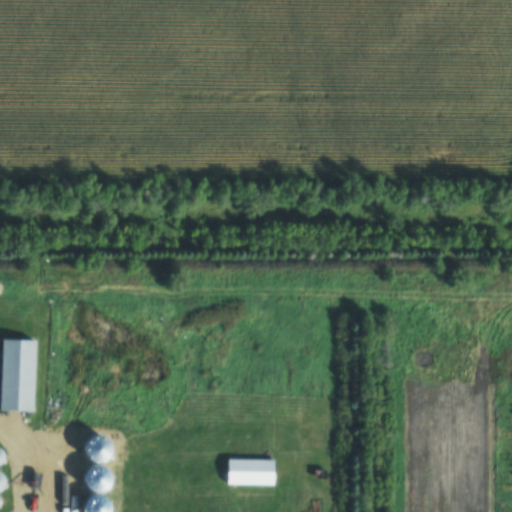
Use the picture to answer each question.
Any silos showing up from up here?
Yes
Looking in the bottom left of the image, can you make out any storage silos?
Yes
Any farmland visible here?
Yes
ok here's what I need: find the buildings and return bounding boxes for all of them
[227,459,274,486]
[0,340,36,410]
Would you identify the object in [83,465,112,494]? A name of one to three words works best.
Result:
silo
